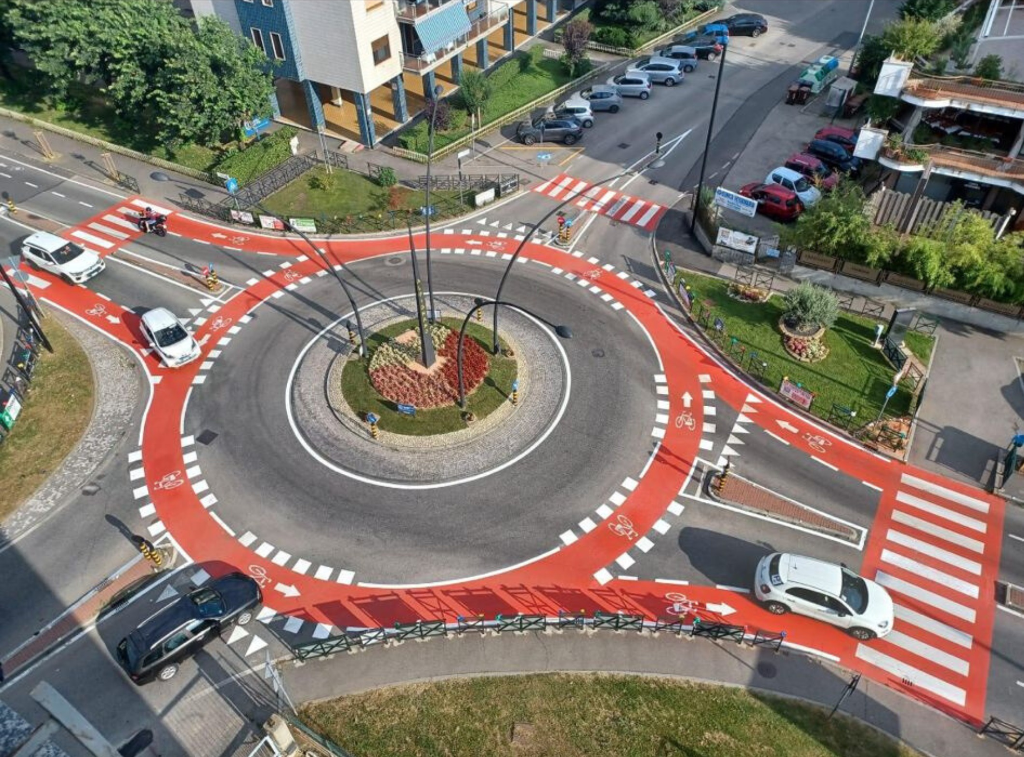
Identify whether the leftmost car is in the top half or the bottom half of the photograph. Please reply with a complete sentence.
Seen from above, the leftmost car lies in the top half of the view.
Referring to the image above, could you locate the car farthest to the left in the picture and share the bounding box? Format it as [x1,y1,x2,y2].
[24,226,103,285]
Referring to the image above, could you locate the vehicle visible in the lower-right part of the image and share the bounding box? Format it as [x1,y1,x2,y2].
[757,550,895,639]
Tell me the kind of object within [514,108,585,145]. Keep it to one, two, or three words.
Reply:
car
